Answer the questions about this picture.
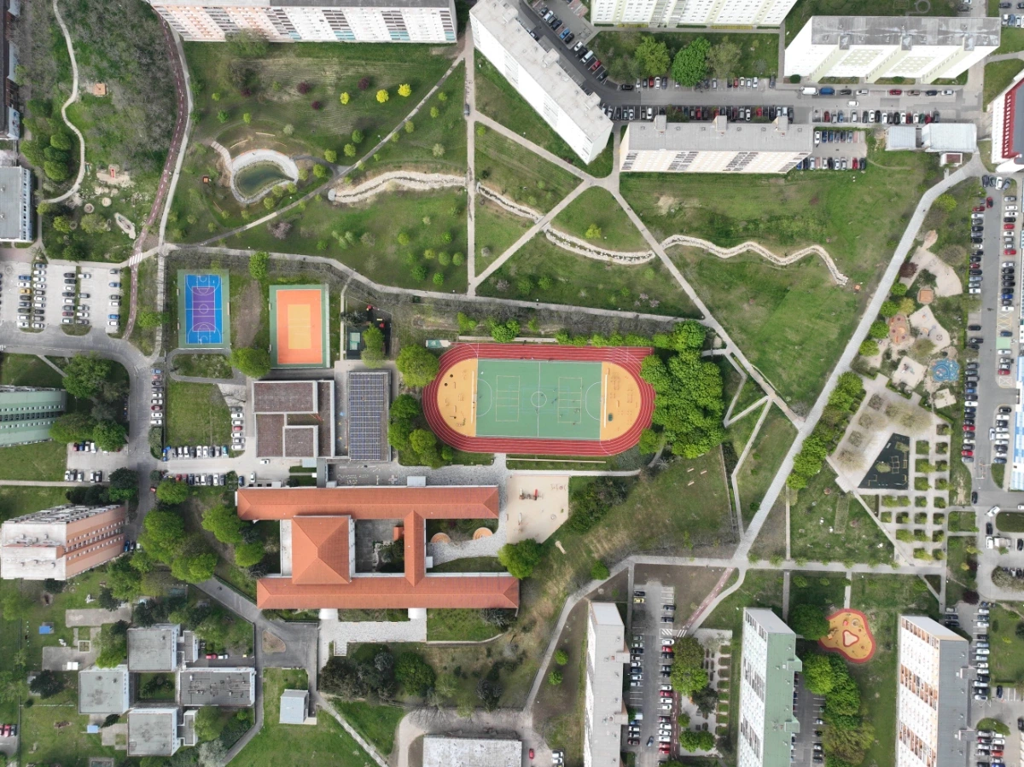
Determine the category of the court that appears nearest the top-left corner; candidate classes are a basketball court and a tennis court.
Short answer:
basketball court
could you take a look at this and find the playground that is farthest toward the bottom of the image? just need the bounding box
[817,609,876,663]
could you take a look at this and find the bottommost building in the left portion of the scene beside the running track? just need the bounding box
[237,475,519,620]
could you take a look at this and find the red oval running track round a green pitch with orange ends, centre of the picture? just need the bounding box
[422,342,656,457]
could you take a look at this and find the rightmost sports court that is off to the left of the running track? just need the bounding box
[270,285,327,368]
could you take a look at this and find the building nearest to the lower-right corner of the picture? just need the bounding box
[896,616,977,767]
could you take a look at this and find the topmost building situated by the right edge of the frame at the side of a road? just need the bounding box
[783,16,1001,82]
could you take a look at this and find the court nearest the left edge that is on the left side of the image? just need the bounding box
[177,269,230,349]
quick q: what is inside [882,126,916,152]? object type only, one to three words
building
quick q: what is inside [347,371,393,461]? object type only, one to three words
building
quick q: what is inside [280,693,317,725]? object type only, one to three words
shed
